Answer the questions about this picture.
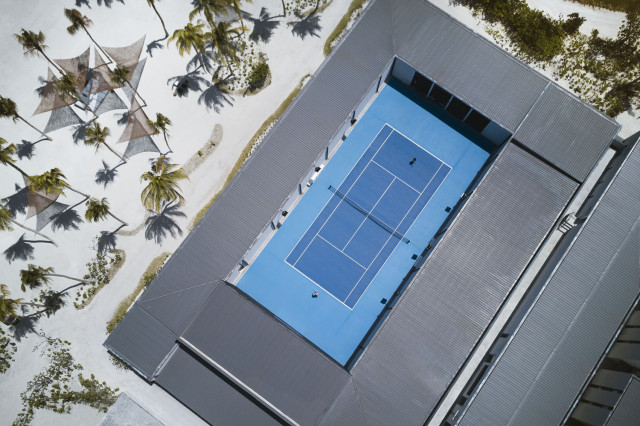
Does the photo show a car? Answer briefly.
No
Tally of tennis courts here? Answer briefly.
1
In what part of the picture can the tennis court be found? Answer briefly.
center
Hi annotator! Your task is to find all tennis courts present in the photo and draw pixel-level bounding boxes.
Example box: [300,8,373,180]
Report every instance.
[232,72,502,369]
